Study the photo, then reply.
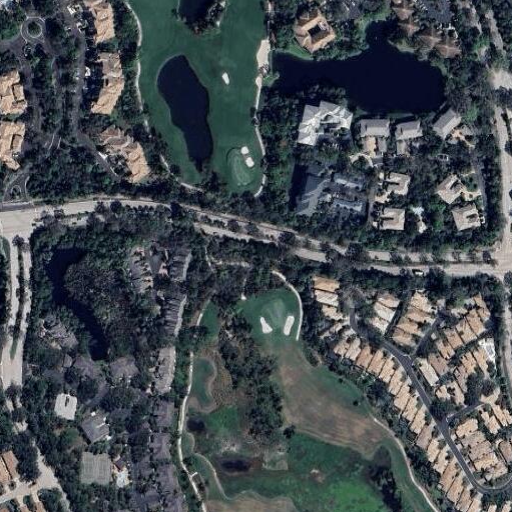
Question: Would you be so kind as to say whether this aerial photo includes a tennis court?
Yes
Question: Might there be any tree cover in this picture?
Yes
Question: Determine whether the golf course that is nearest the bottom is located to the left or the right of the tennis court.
to its right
